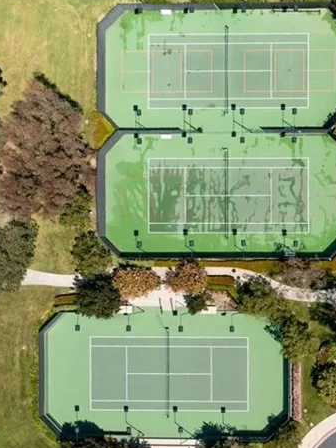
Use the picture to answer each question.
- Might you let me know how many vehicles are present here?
0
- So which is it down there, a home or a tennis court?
tennis court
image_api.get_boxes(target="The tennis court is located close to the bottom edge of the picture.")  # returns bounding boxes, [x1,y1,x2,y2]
[48,311,289,438]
